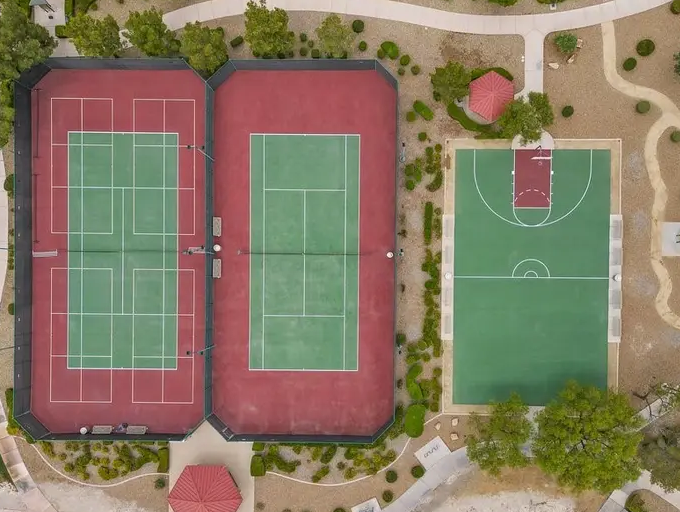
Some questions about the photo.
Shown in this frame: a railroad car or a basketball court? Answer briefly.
basketball court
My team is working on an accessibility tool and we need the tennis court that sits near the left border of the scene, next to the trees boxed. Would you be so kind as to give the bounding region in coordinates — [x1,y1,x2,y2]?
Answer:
[31,69,206,434]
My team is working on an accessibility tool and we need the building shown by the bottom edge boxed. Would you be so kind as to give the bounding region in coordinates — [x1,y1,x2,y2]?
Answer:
[167,462,243,512]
